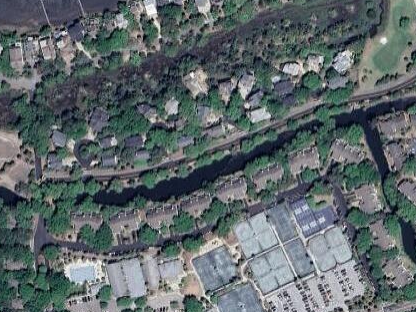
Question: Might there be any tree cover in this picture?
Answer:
Yes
